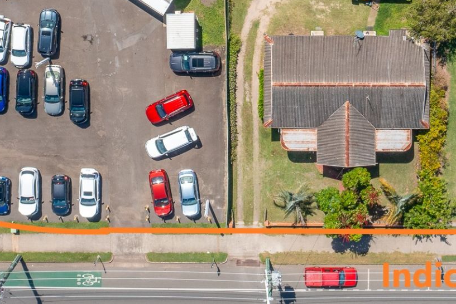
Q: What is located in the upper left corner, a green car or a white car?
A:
white car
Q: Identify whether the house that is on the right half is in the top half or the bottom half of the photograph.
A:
top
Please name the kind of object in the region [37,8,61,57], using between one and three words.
car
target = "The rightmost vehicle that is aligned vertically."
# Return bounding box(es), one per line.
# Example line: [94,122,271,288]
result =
[178,169,202,219]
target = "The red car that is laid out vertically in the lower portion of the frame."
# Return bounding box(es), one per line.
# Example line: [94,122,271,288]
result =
[149,169,174,217]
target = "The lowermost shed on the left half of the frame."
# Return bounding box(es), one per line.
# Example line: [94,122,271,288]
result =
[166,14,198,50]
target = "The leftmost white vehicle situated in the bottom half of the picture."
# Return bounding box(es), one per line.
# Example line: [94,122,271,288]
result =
[17,167,41,217]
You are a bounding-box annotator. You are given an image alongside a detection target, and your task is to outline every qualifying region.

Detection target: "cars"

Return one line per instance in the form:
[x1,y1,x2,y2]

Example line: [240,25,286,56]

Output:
[0,68,8,113]
[50,174,71,215]
[178,169,202,219]
[77,168,100,218]
[7,21,32,68]
[145,126,199,157]
[149,169,174,217]
[146,90,193,123]
[17,167,41,217]
[42,66,65,115]
[14,70,38,115]
[37,8,61,57]
[169,50,221,74]
[68,79,90,123]
[0,14,13,63]
[0,177,12,214]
